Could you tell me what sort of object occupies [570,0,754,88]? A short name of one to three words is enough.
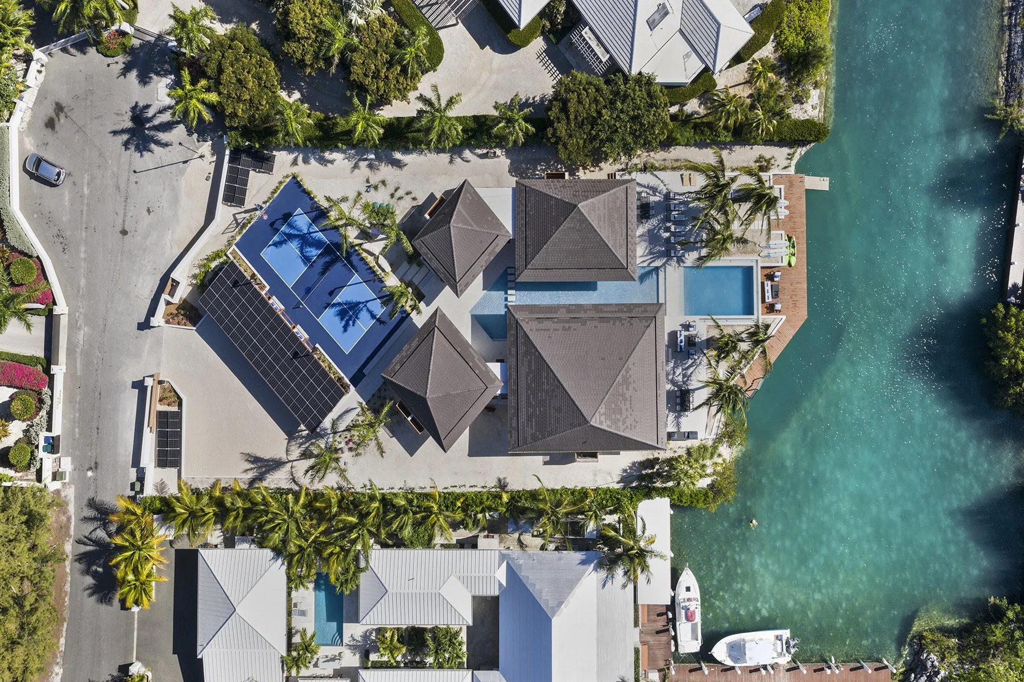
house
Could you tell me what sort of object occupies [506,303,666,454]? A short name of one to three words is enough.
house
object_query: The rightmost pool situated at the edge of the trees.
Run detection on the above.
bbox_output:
[684,266,753,316]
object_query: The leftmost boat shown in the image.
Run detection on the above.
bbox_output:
[675,571,701,651]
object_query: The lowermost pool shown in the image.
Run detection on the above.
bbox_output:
[315,573,343,646]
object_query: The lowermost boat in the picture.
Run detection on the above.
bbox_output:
[706,634,800,665]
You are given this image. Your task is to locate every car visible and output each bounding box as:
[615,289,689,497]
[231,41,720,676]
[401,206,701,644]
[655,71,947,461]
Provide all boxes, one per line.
[27,156,69,185]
